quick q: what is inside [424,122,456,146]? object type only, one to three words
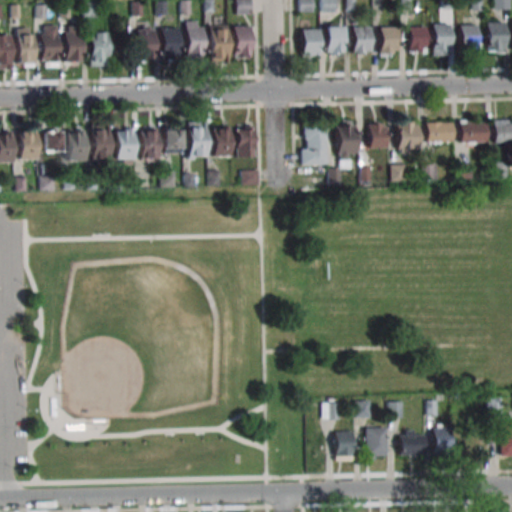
house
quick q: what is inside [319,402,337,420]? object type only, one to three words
building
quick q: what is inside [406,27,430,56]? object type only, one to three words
house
